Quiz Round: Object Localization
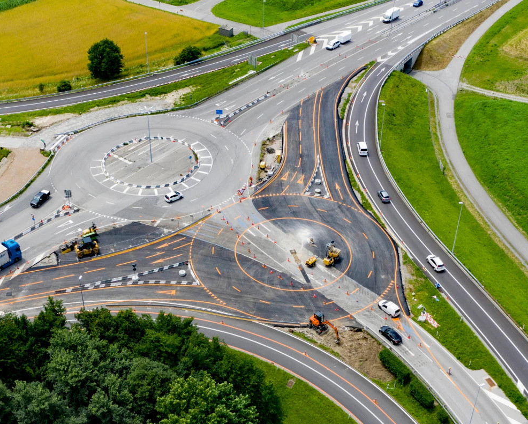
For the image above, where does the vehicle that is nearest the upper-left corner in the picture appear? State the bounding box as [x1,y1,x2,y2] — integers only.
[30,191,50,207]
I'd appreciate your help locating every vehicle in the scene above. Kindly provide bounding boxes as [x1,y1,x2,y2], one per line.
[376,191,391,204]
[383,6,400,21]
[73,240,101,260]
[30,191,50,207]
[357,144,366,156]
[425,256,446,272]
[378,327,404,345]
[164,192,183,203]
[82,231,98,241]
[0,245,20,270]
[308,313,333,343]
[326,39,340,50]
[413,0,424,7]
[377,301,401,319]
[322,247,343,266]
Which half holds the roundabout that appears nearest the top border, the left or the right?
left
